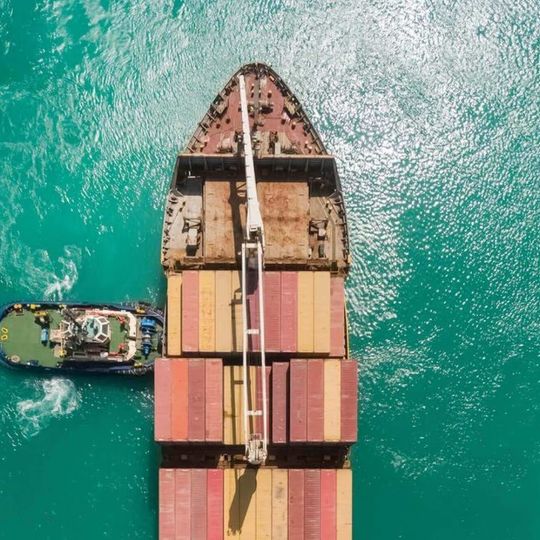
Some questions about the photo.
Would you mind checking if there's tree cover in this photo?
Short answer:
No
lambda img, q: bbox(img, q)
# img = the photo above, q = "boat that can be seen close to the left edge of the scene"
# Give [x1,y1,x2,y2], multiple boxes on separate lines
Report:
[0,300,161,377]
